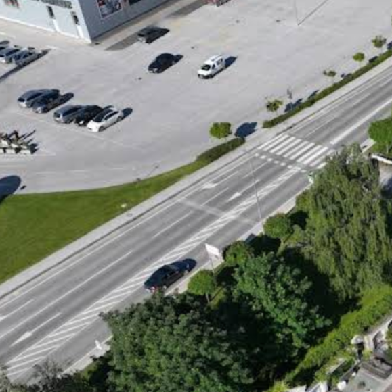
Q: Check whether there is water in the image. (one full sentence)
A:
No, there's no water in this view.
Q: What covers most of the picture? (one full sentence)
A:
The scene is dominated by paved ground.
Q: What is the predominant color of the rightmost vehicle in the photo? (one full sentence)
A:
In this view, the rightmost vehicle is white.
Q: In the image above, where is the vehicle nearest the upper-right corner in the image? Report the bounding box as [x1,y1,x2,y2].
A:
[198,52,229,77]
